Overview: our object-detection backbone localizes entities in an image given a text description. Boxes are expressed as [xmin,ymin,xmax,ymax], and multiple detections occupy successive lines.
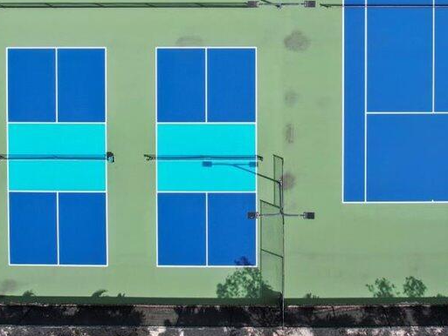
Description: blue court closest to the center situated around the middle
[155,47,257,268]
